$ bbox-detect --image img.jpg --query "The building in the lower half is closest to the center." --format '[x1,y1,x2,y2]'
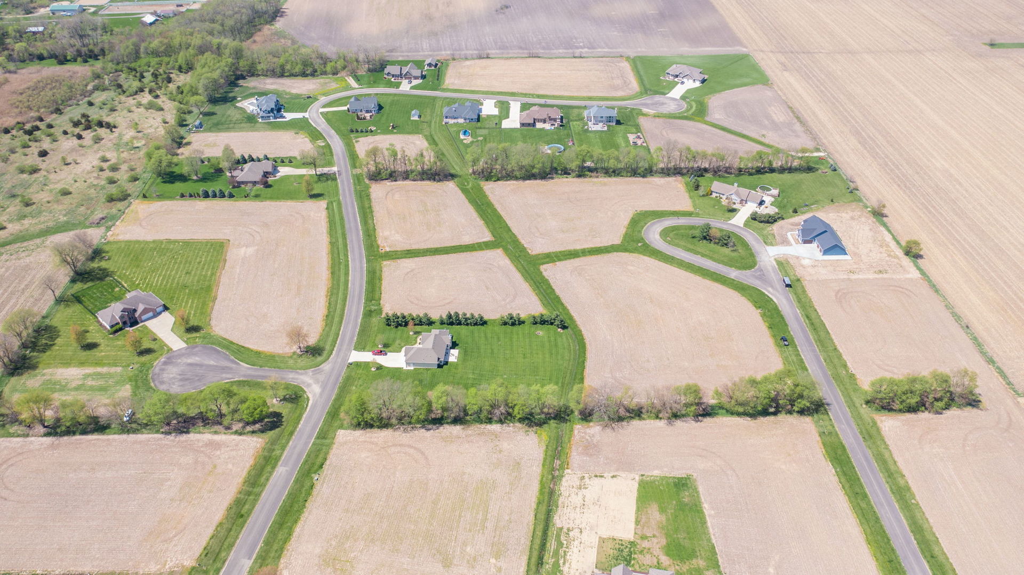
[404,331,453,368]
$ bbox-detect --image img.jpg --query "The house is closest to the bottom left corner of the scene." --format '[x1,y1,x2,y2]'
[94,289,167,330]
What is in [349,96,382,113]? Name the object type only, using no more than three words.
house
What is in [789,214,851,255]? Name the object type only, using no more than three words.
house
